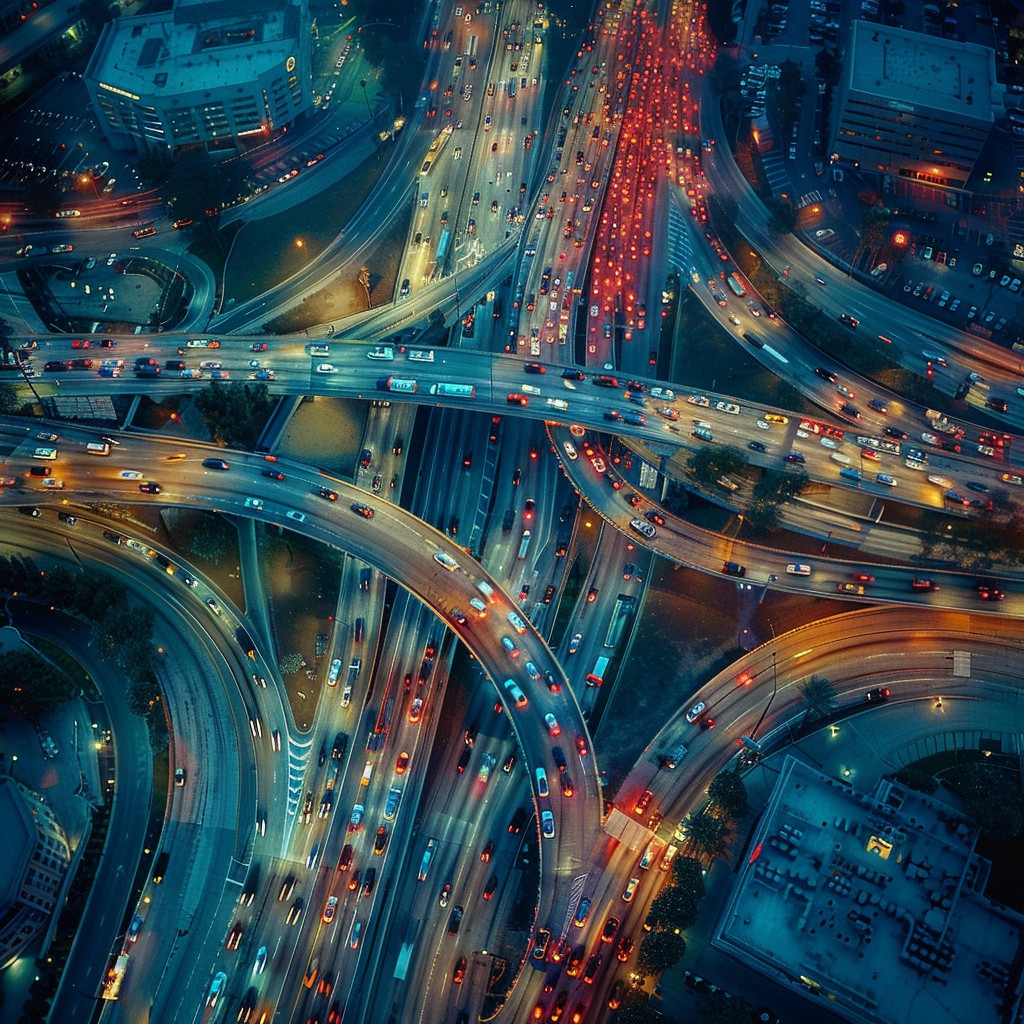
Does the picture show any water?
No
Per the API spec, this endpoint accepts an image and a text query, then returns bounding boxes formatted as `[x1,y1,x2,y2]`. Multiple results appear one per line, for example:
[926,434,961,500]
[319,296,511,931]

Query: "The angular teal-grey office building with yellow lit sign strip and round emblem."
[81,0,324,158]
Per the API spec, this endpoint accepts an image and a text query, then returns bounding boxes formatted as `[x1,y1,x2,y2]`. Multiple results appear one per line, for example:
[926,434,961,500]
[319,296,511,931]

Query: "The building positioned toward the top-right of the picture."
[828,16,1015,194]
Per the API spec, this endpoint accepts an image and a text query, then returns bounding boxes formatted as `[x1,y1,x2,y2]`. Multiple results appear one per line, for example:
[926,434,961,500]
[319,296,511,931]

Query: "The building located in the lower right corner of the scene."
[705,752,1024,1024]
